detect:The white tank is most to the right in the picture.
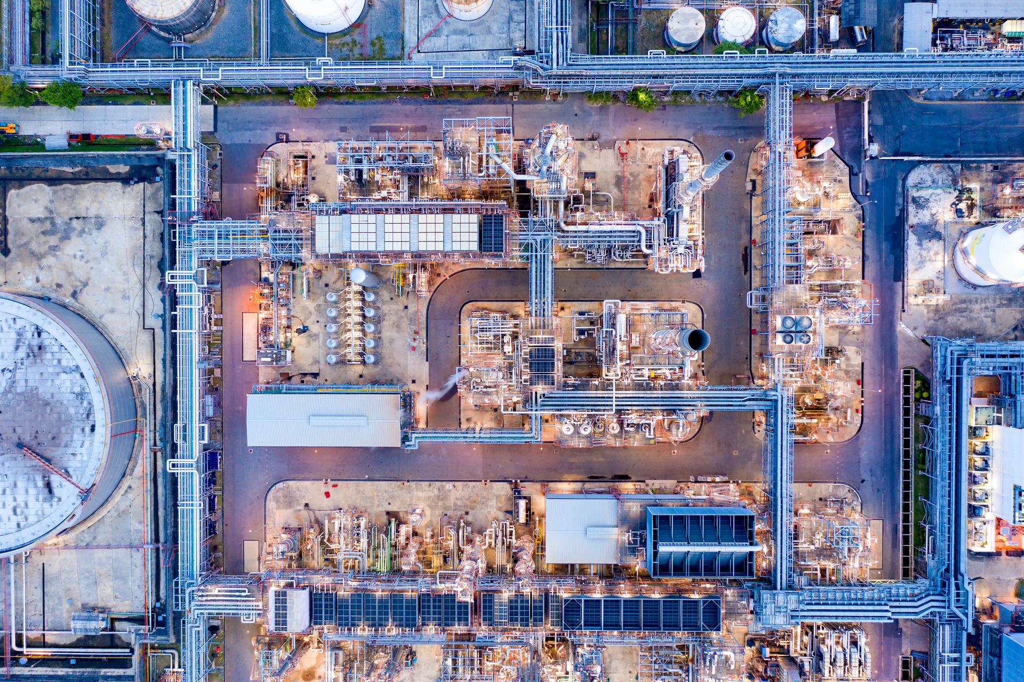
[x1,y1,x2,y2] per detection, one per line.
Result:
[948,217,1024,294]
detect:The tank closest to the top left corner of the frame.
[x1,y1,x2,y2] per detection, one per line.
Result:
[116,0,227,63]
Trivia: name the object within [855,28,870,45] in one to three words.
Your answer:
vehicle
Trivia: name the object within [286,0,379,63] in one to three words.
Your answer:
storage tank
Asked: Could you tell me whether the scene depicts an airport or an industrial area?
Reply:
industrial area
